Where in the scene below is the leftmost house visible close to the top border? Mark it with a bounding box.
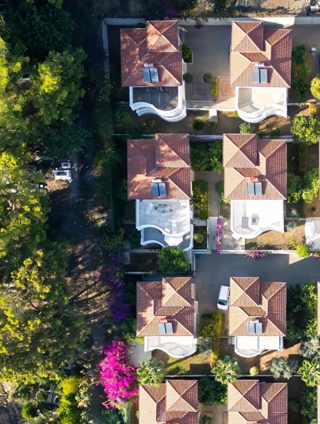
[120,19,187,127]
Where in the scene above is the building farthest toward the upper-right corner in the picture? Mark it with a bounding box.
[229,20,292,128]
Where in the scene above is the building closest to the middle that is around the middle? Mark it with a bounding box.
[126,131,195,244]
